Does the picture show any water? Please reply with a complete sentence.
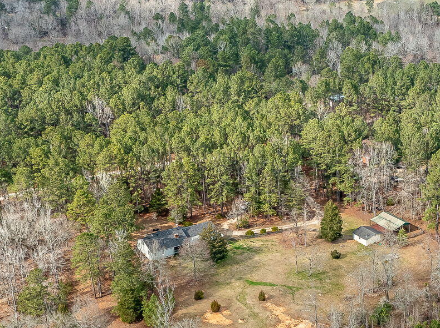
No, there is no water in the image.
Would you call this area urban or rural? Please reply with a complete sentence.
From above, the setting appears rural.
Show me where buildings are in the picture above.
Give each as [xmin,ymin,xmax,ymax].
[353,225,383,246]
[137,222,217,260]
[369,209,412,239]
